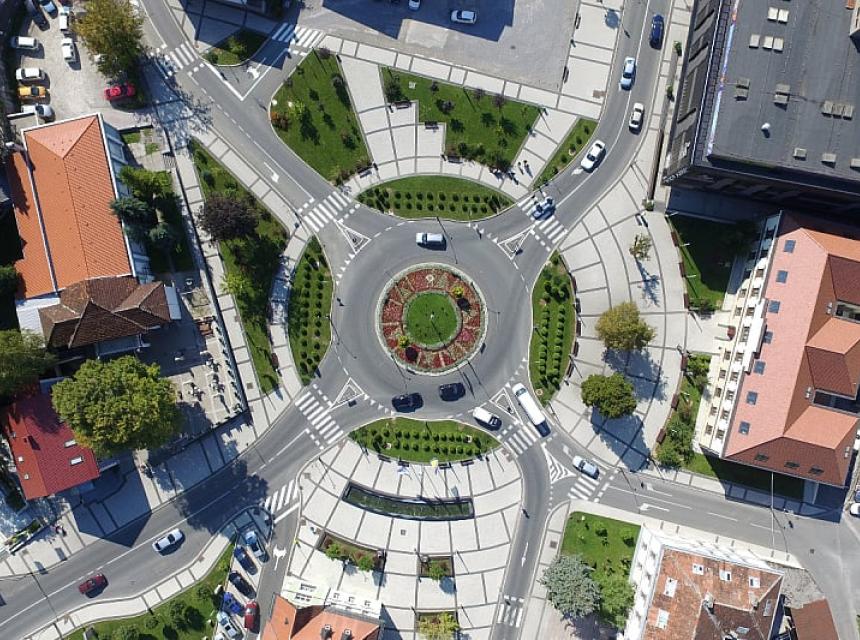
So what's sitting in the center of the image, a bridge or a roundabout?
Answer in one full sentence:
The one visible in the center of the image is a roundabout.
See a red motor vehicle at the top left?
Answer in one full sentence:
Yes, a red motor vehicle appears at the top left.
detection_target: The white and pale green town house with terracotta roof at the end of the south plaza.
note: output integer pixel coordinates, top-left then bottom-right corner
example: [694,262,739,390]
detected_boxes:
[264,579,382,640]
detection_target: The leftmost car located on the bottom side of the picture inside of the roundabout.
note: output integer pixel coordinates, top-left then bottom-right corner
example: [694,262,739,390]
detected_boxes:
[392,394,423,409]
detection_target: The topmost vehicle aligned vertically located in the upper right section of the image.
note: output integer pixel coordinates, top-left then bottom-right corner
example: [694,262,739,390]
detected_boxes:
[648,15,665,49]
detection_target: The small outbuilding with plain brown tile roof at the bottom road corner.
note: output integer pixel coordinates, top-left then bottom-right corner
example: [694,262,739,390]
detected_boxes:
[785,596,839,640]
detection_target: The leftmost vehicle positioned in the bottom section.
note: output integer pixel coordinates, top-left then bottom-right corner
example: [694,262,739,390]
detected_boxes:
[79,572,109,595]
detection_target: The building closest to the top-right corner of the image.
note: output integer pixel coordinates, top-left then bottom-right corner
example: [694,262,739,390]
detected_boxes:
[663,0,860,213]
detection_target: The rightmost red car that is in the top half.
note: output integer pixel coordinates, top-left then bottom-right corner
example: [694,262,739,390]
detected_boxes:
[106,84,135,101]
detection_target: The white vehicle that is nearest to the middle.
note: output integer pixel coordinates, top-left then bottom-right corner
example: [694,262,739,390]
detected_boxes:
[417,233,443,246]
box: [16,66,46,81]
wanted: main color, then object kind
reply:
white car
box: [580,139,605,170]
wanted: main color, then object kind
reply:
white car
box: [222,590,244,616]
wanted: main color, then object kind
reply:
blue car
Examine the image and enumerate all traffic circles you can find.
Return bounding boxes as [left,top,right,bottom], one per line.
[333,221,530,418]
